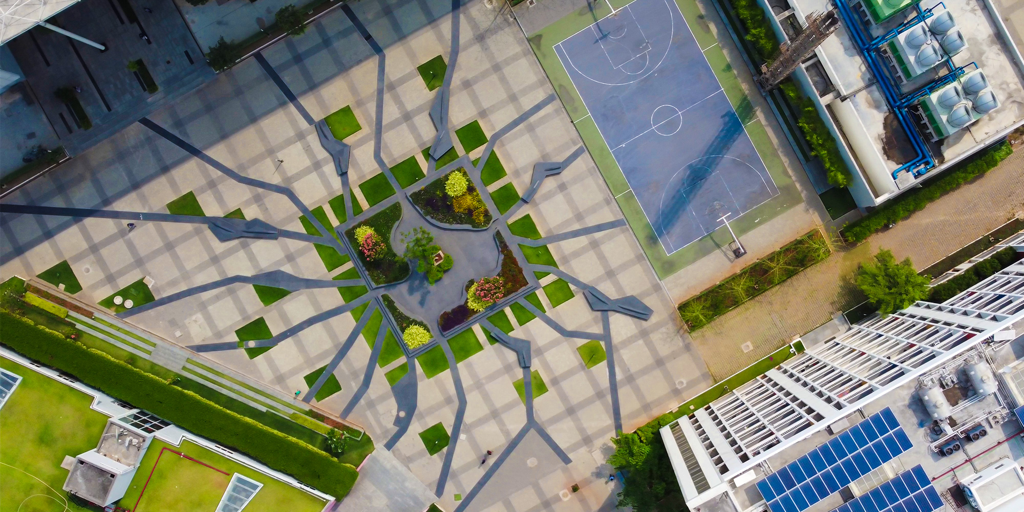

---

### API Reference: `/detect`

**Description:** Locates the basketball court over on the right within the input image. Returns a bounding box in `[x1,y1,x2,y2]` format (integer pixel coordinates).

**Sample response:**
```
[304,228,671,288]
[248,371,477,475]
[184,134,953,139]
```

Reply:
[531,0,804,279]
